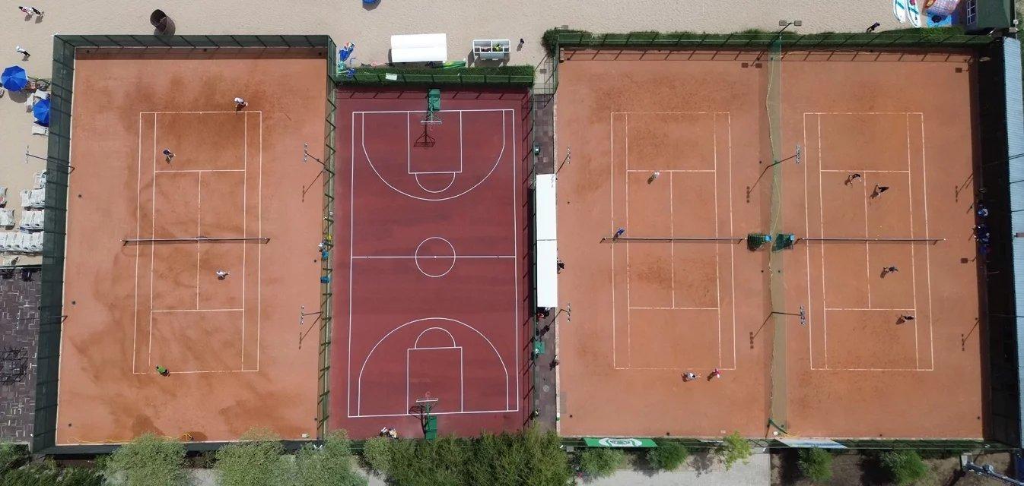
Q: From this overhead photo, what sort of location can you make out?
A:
sports ground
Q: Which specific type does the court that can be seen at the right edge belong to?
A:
tennis court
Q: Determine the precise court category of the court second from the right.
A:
tennis court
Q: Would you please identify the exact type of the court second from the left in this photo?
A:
basketball court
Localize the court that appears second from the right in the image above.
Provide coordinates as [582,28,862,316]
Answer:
[554,46,770,439]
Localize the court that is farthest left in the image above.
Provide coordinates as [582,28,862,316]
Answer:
[55,45,331,446]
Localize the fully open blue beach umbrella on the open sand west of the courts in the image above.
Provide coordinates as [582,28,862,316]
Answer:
[3,66,30,91]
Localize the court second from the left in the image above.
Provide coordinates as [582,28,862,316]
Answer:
[329,85,533,440]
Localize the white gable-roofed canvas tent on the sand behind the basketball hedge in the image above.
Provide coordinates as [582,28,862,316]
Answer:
[391,33,447,65]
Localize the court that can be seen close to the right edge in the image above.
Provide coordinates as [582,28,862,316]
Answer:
[769,47,992,441]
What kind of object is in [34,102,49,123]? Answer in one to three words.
umbrella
